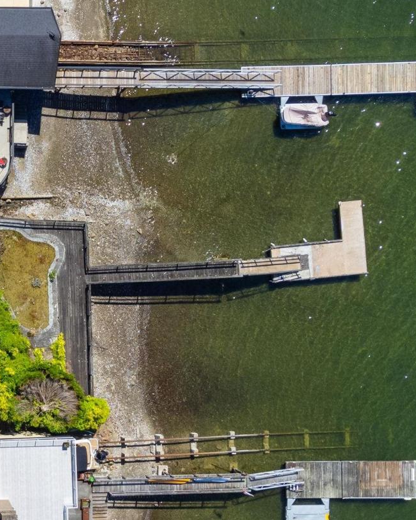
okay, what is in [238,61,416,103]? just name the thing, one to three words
pier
